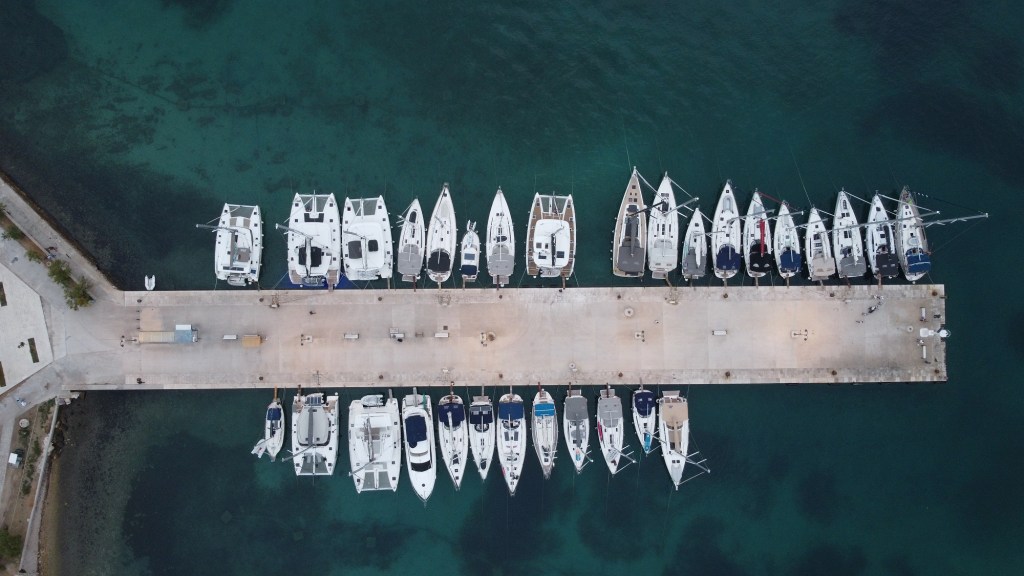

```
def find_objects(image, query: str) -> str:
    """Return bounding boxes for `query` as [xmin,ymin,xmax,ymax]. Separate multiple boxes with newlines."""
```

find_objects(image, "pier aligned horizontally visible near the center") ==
[123,284,946,389]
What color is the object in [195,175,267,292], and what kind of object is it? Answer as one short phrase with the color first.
white boat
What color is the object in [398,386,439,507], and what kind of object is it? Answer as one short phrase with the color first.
white boat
